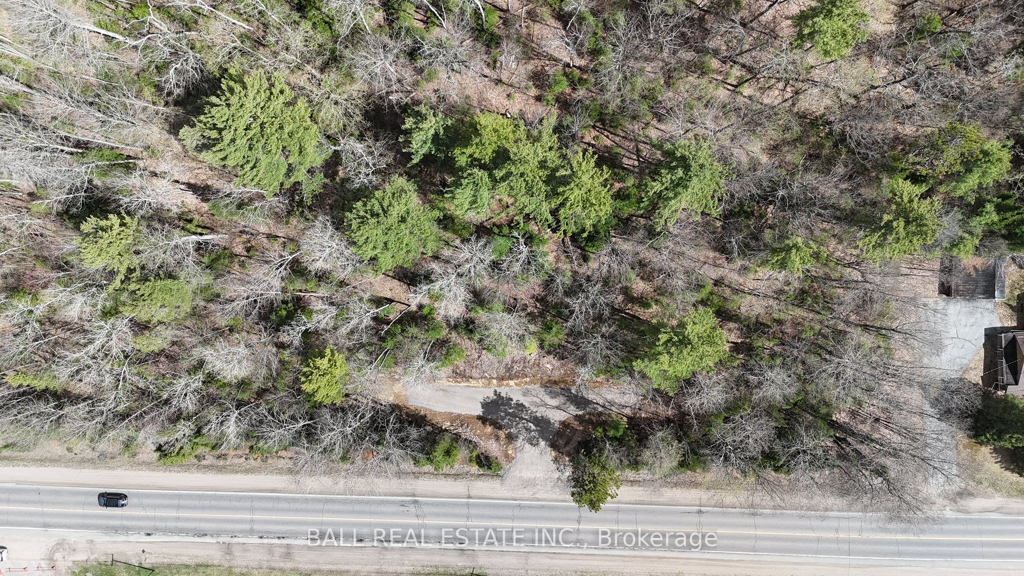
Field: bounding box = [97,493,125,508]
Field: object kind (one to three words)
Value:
car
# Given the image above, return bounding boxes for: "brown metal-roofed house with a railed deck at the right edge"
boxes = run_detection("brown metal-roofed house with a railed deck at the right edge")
[985,331,1024,396]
